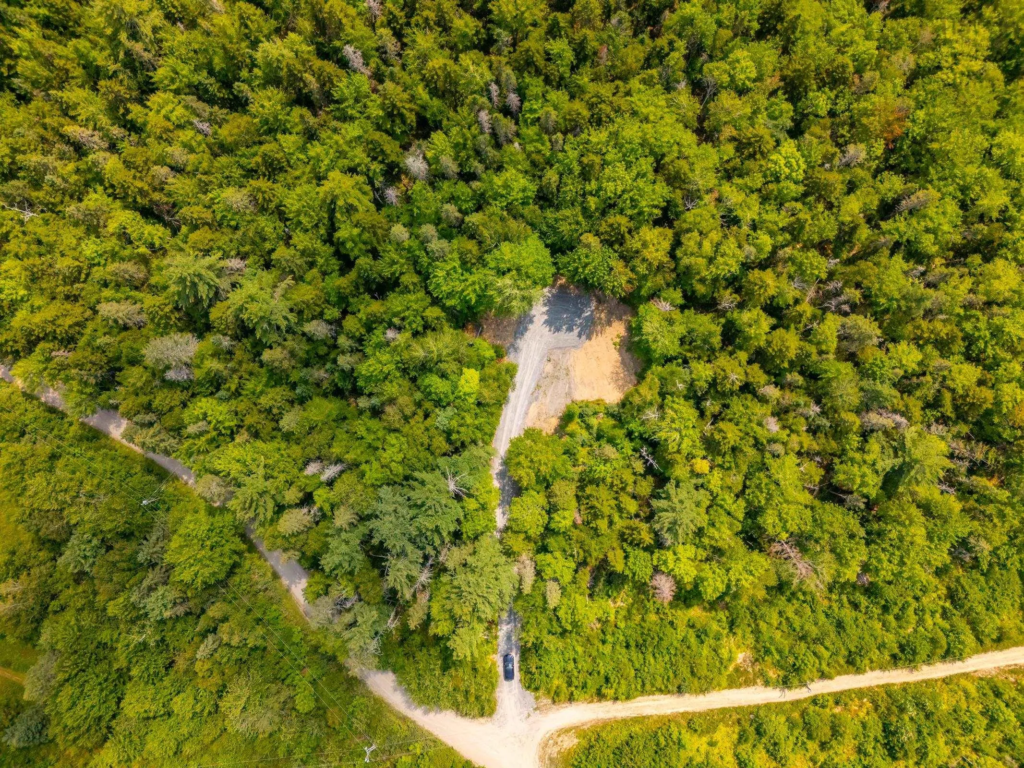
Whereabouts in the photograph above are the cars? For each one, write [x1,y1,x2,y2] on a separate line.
[503,654,515,681]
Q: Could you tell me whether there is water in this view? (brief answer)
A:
No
